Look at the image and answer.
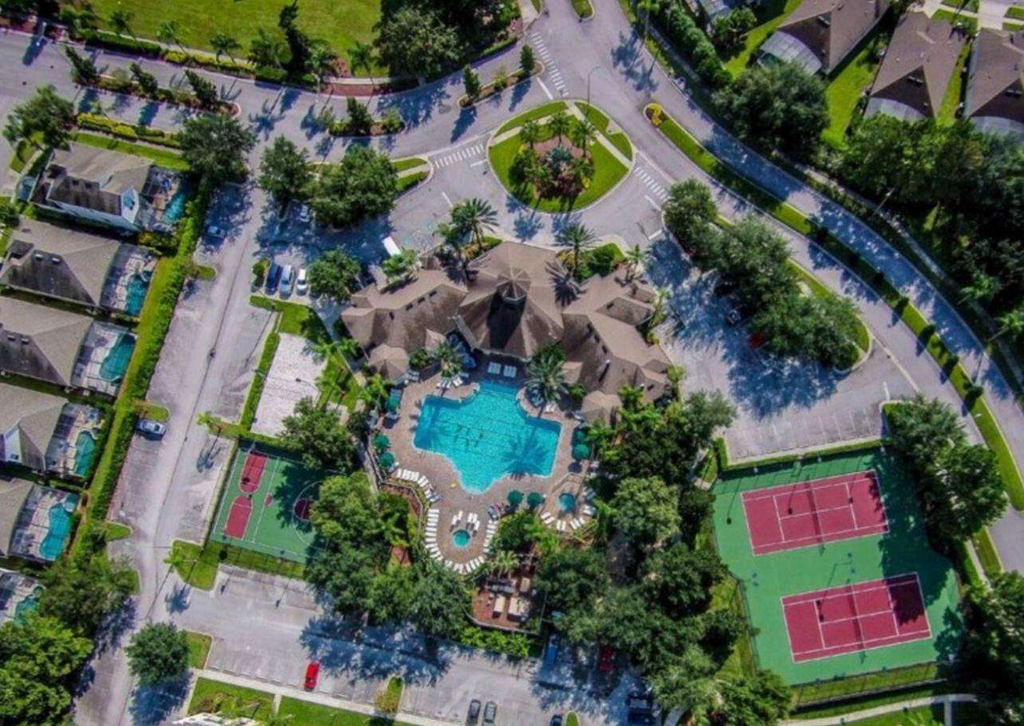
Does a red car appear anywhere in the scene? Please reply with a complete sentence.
Yes, the picture does show a red car.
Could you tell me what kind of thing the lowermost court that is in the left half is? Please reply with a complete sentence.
I'd identify the lowermost court that is in the left half as a basketball court.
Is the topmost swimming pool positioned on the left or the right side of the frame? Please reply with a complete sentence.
The topmost swimming pool sits on the left side.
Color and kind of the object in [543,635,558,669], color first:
blue car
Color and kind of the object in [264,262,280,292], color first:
blue car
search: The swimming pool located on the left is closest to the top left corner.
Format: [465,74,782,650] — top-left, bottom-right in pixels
[163,180,194,223]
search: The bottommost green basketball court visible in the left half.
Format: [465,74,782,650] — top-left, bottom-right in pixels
[210,448,345,572]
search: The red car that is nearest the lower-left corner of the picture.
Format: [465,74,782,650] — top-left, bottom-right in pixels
[303,661,319,691]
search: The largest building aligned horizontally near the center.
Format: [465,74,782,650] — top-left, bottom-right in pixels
[341,241,673,403]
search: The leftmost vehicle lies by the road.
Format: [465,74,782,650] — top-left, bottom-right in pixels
[135,420,164,436]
